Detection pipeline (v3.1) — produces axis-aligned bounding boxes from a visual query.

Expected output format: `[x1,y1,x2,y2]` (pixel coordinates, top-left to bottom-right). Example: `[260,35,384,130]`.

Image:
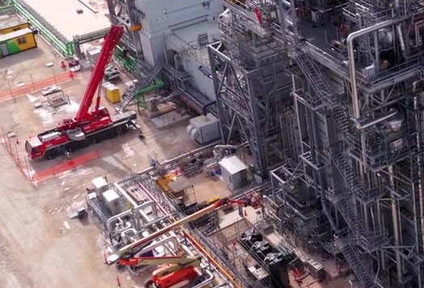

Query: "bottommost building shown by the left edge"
[0,24,36,57]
